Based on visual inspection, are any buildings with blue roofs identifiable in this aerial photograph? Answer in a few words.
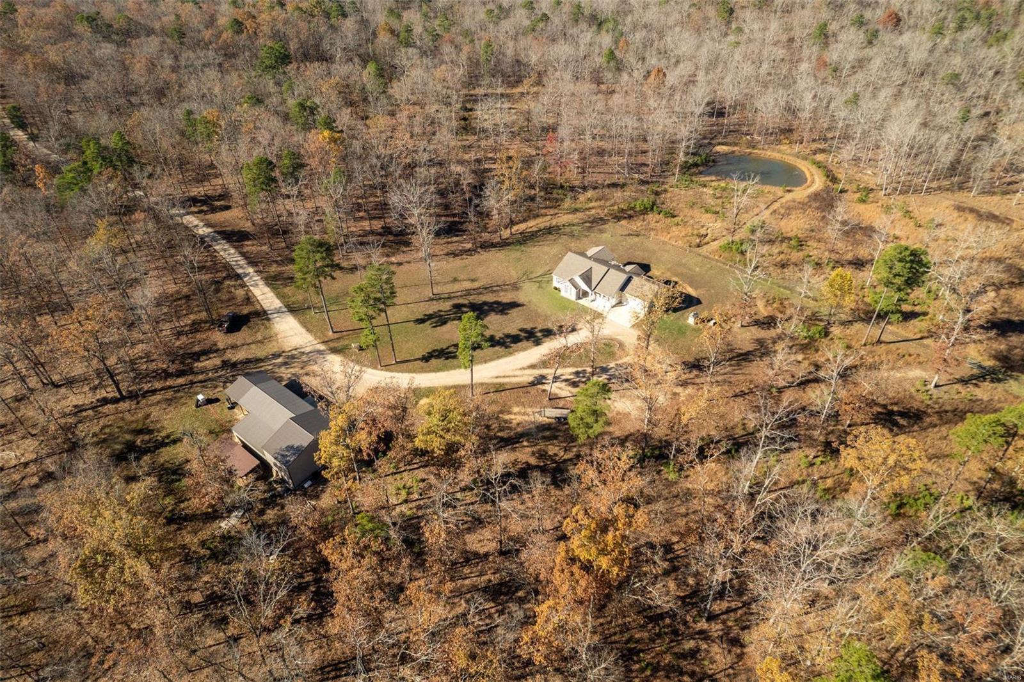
No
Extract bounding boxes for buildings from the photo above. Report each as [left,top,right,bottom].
[551,246,680,316]
[222,370,344,487]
